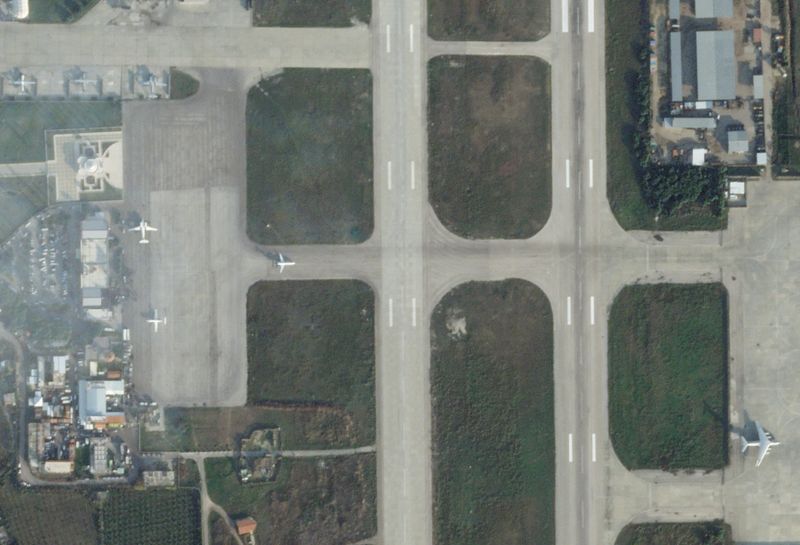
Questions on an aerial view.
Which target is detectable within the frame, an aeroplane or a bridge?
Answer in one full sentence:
It is an aeroplane that can be seen here.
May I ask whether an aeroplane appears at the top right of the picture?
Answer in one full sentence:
No, no aeroplane can be made out at the top right of the picture.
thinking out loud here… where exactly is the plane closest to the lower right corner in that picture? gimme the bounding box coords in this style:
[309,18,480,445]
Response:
[742,421,780,466]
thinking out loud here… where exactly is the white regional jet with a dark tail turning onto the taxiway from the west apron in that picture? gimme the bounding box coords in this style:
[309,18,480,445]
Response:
[272,254,295,273]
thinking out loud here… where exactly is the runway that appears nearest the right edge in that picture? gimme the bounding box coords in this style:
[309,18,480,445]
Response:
[551,0,610,545]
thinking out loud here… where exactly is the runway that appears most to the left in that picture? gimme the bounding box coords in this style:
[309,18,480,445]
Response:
[372,0,431,545]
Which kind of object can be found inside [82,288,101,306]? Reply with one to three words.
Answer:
building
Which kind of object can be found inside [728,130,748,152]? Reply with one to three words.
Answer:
building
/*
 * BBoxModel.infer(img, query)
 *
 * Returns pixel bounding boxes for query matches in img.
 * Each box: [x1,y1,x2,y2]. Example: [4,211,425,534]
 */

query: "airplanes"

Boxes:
[148,309,163,333]
[73,73,96,96]
[12,75,34,94]
[742,421,780,466]
[141,76,164,98]
[272,254,295,273]
[129,219,157,243]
